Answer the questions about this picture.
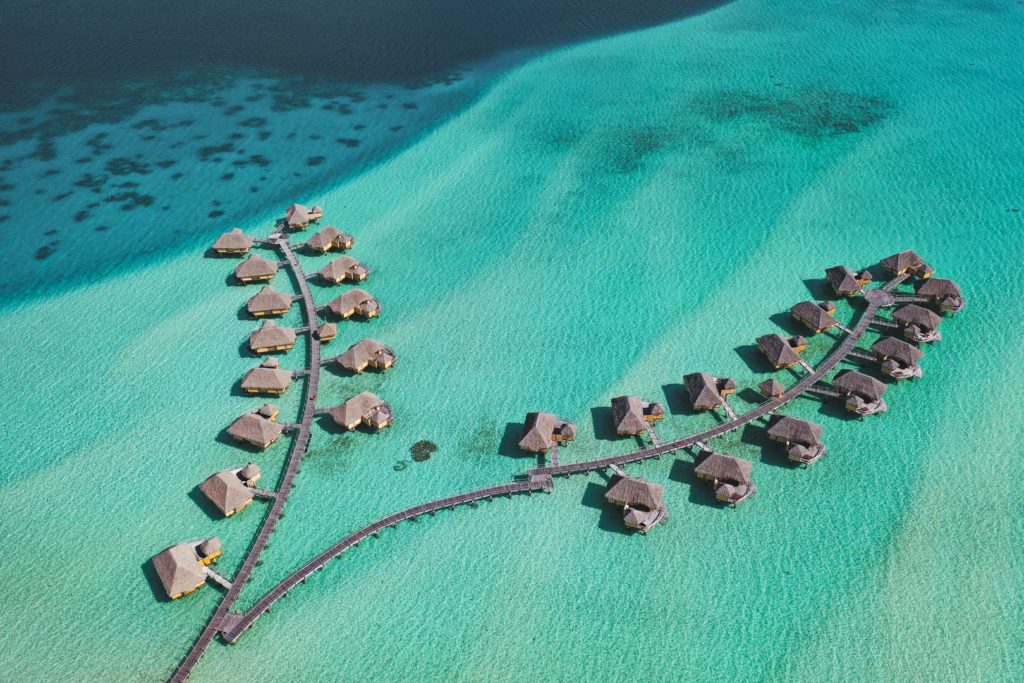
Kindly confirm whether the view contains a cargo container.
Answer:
No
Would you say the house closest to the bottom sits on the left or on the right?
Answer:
left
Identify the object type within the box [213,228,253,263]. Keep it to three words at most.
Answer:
house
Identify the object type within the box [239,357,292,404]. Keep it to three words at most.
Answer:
house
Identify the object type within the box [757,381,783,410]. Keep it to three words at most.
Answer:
shed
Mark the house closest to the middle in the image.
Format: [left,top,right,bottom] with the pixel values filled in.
[522,413,577,461]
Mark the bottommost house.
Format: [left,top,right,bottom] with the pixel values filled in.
[152,539,224,607]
